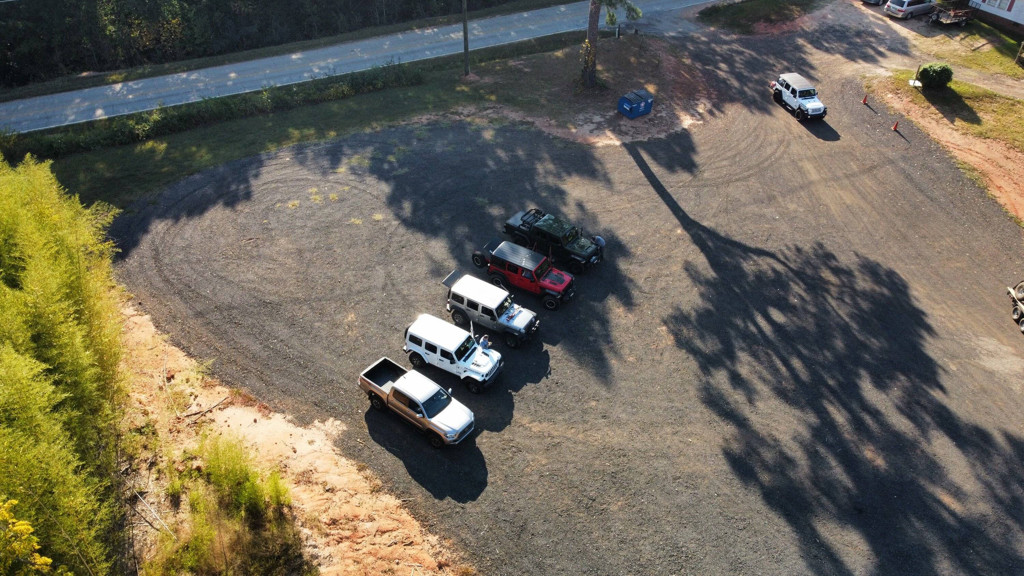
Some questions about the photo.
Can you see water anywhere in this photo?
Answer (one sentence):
No, the picture contains no water.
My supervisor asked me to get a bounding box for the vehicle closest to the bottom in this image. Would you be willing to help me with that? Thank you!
[354,353,482,451]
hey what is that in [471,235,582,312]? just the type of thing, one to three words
car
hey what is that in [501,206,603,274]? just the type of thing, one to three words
truck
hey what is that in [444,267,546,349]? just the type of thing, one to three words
car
